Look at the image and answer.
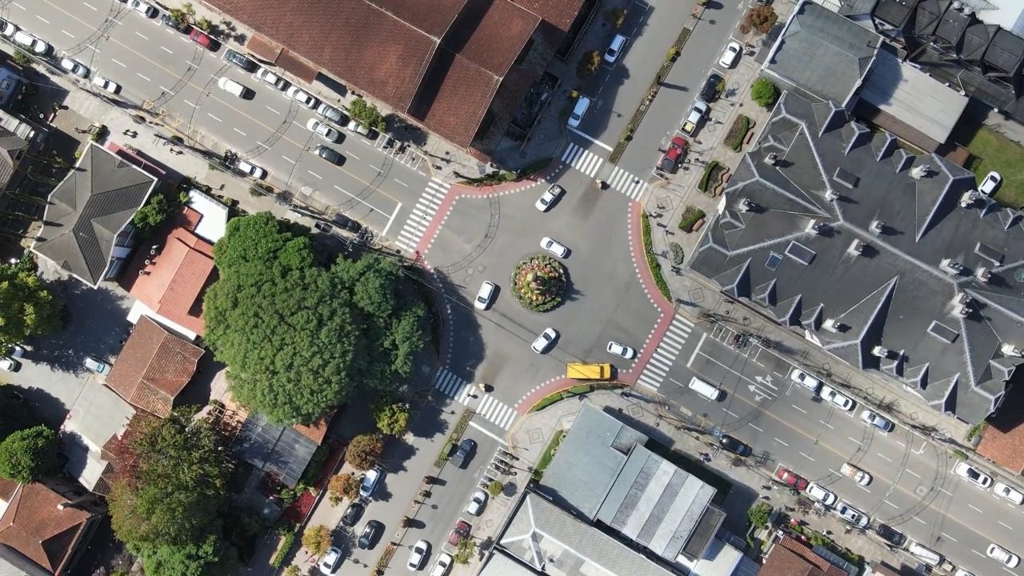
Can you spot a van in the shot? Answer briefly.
Yes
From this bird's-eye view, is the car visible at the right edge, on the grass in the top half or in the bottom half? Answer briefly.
top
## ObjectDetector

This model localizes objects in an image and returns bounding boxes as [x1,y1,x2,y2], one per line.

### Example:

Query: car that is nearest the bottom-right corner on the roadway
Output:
[985,543,1015,566]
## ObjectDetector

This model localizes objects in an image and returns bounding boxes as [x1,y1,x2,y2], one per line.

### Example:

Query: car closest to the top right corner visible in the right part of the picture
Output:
[977,169,1001,194]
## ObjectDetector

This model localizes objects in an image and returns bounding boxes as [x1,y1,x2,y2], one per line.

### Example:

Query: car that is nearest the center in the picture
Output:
[474,280,496,310]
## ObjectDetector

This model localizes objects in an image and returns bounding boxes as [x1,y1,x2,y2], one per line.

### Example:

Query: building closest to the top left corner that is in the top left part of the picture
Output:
[0,64,38,116]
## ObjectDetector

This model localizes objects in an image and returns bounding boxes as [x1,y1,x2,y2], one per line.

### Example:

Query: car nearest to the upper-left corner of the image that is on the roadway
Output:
[0,16,21,38]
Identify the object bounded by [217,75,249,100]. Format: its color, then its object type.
white vehicle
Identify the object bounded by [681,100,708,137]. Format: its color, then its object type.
white truck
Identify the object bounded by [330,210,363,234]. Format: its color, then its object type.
black car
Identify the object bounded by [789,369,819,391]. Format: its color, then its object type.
white car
